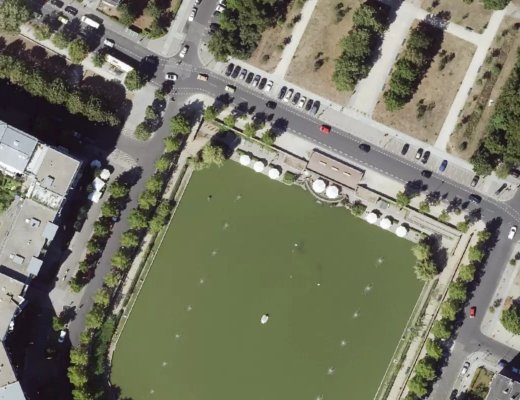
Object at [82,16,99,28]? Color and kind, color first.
white vehicle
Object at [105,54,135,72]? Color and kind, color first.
white vehicle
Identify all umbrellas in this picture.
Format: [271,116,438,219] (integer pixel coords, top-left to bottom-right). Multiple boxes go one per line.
[396,226,407,237]
[367,213,377,223]
[91,159,101,169]
[326,185,339,198]
[253,161,264,172]
[94,179,105,189]
[269,169,279,179]
[313,180,326,192]
[100,169,110,180]
[240,155,250,165]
